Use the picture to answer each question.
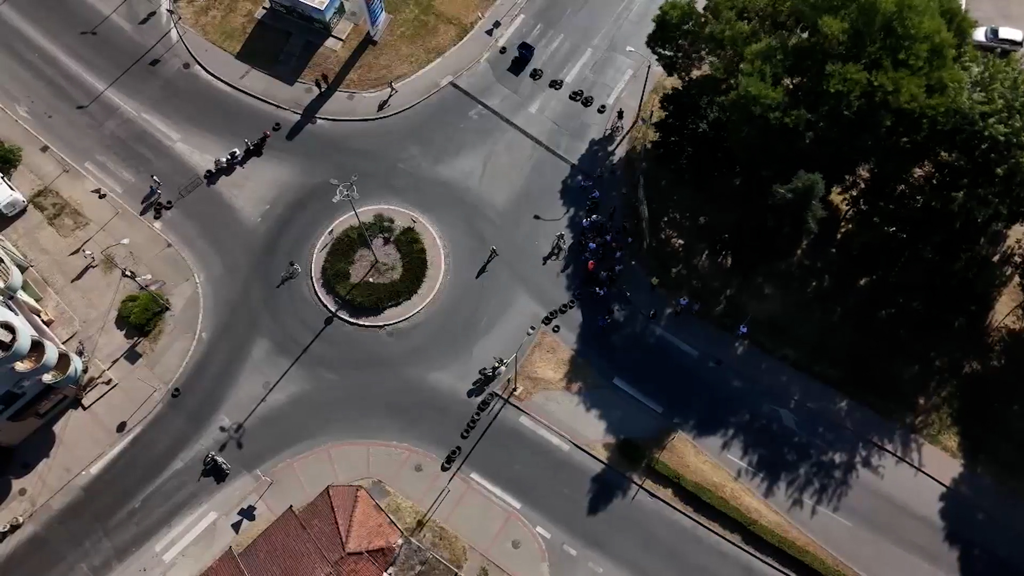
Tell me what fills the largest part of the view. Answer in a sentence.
The scene is dominated by paved ground.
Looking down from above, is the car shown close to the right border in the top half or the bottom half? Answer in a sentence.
The top half of the photo is where the car shown close to the right border is.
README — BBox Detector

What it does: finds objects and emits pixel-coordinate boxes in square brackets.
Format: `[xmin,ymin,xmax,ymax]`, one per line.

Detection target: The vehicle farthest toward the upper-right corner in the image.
[979,24,1024,54]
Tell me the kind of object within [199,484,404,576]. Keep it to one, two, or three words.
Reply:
house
